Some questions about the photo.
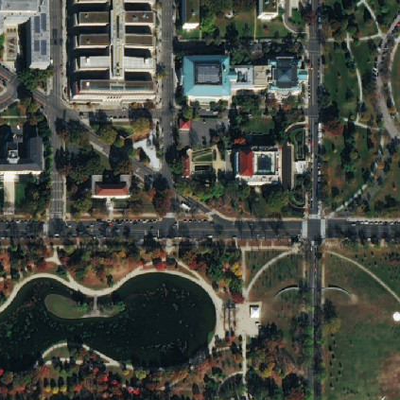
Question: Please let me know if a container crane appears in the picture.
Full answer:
No, no container crane can be seen from above.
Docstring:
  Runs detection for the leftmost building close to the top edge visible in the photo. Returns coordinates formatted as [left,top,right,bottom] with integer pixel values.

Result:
[0,0,51,67]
